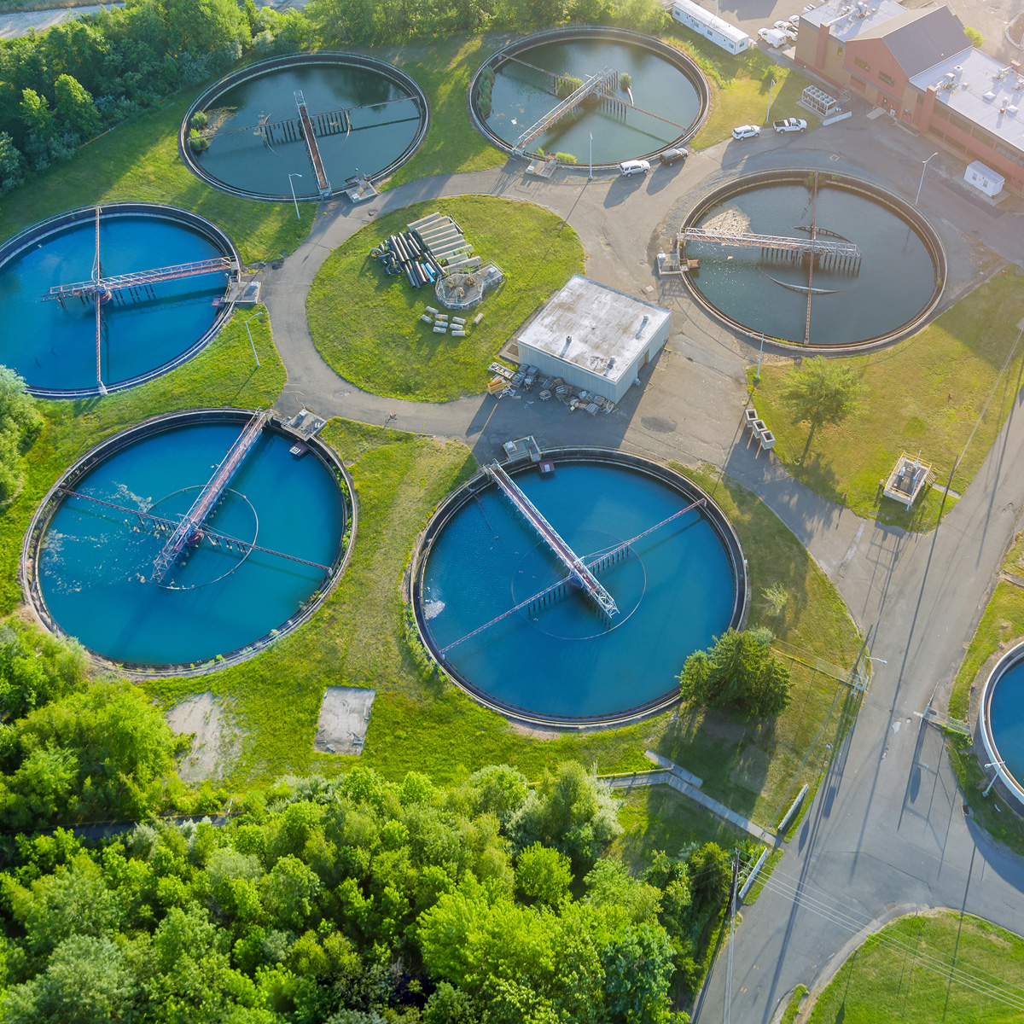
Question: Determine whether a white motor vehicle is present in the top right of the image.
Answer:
Yes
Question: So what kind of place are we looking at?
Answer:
industrial area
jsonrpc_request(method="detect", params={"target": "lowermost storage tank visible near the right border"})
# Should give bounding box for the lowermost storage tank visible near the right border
[979,646,1024,824]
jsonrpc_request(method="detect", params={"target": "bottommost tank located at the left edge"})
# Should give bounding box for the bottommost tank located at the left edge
[20,404,358,678]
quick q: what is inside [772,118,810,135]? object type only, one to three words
vehicle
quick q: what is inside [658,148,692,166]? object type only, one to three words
car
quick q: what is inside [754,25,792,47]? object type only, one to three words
truck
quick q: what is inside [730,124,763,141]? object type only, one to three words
car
